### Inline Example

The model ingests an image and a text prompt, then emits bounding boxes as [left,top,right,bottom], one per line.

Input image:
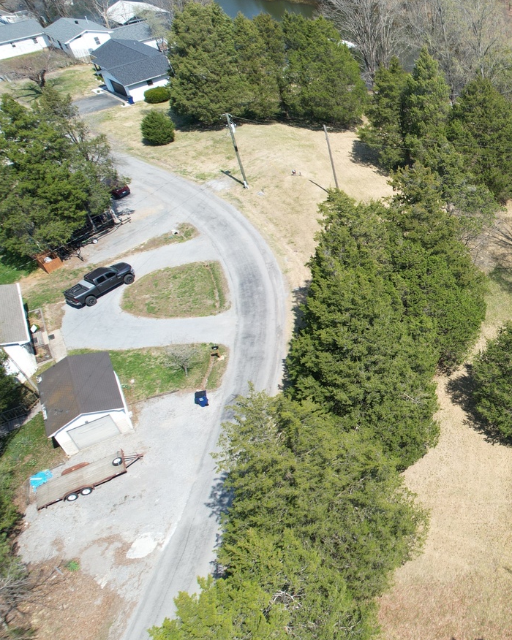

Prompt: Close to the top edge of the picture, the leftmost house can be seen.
[0,15,46,58]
